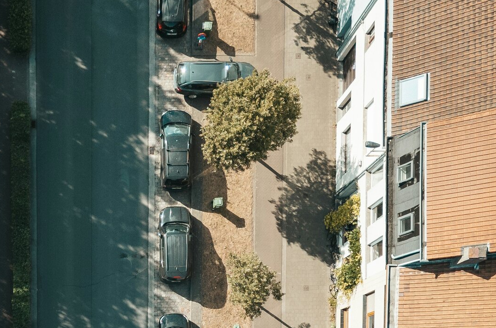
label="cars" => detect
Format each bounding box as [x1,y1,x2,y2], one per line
[155,206,196,283]
[157,0,189,37]
[159,314,191,328]
[173,56,255,99]
[157,111,195,190]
